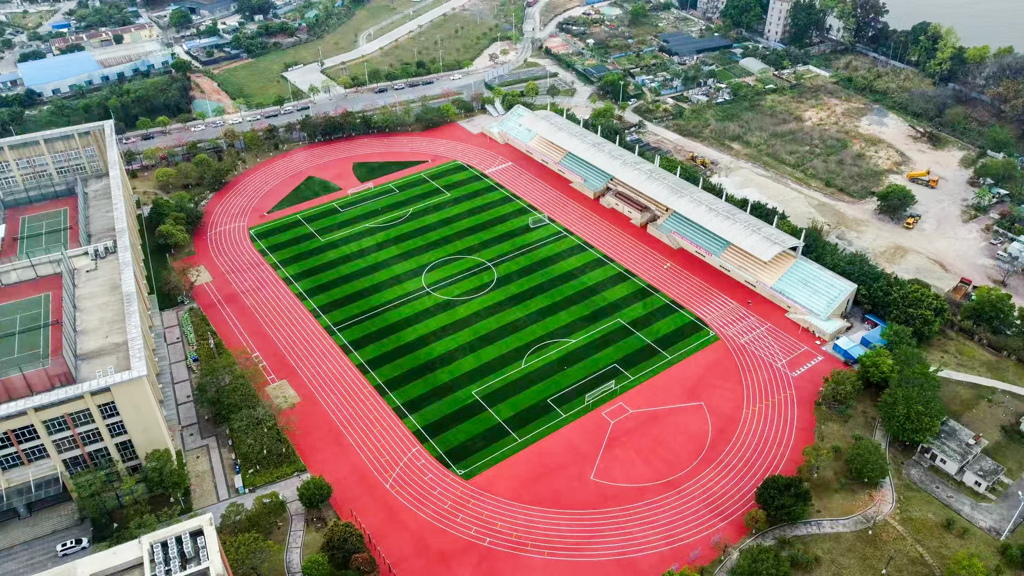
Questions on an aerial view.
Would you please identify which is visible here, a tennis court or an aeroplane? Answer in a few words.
tennis court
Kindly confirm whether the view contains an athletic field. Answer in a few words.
Yes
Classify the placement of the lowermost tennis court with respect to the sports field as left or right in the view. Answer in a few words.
to its left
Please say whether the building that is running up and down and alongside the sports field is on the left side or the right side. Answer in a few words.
left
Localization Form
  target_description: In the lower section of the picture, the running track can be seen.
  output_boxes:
[172,123,848,576]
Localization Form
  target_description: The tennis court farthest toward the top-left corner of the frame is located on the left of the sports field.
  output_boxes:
[7,208,67,258]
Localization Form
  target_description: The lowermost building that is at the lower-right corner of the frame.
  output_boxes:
[959,453,1003,494]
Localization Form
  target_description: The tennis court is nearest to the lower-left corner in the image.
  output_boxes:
[0,294,52,380]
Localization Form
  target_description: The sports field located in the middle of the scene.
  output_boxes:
[247,159,720,481]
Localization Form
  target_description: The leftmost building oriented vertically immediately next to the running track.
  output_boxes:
[0,122,184,542]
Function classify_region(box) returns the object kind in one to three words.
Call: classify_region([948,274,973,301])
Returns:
truck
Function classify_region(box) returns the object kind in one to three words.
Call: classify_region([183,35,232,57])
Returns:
shed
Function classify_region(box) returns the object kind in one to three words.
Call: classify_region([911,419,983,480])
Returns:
house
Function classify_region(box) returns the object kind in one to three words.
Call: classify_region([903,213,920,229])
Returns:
work vehicle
